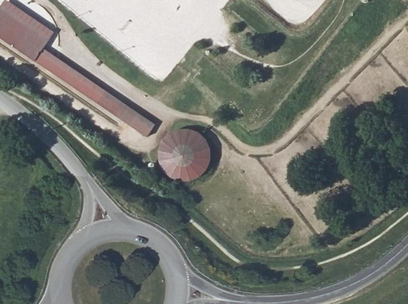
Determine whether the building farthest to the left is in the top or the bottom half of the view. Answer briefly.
top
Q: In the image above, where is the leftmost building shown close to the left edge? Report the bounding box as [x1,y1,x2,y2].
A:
[0,0,54,60]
